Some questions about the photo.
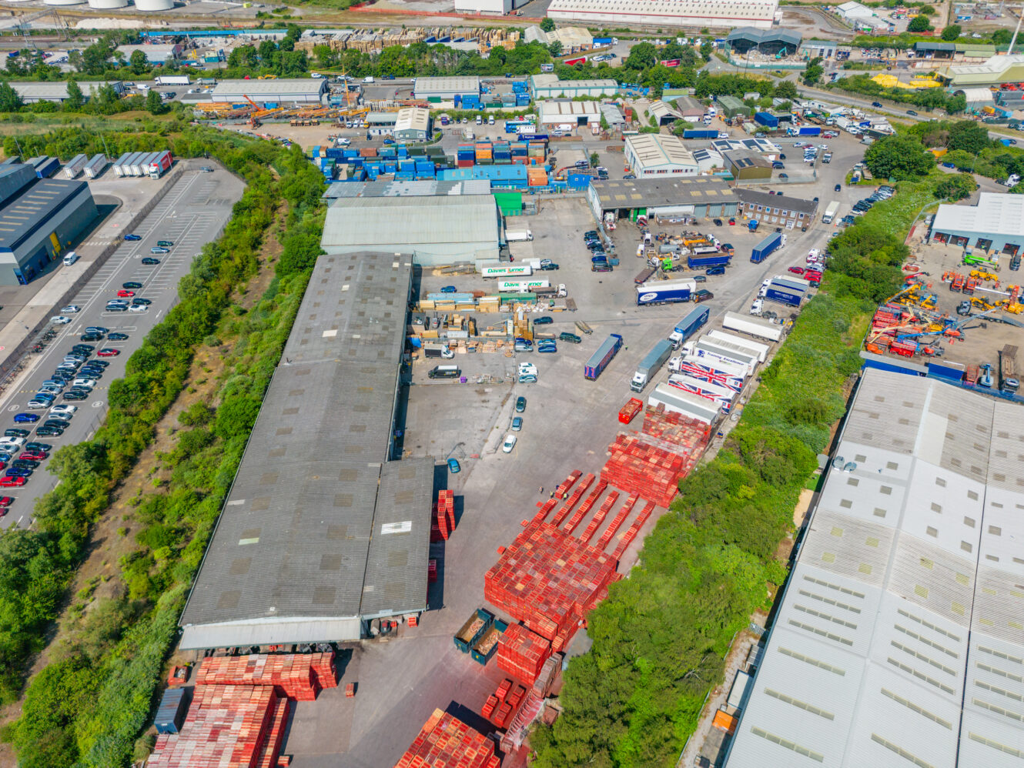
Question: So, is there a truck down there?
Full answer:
Yes, there's a truck here.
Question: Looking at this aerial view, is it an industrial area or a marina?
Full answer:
This looks like an industrial area.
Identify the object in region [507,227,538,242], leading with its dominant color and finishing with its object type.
white vehicle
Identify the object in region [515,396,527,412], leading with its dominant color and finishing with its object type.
blue vehicle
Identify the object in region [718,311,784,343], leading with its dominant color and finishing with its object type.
white trailer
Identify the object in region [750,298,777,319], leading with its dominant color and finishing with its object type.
white truck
